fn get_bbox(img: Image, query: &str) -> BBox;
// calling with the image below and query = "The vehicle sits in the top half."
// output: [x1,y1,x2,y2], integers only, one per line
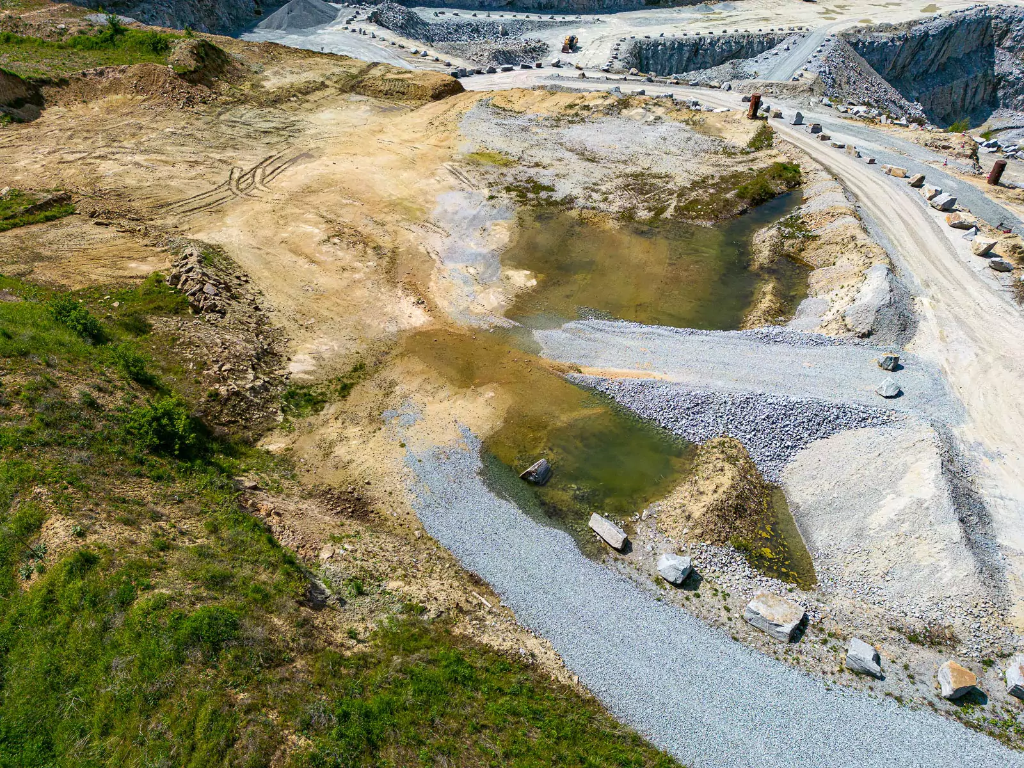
[558,34,584,55]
